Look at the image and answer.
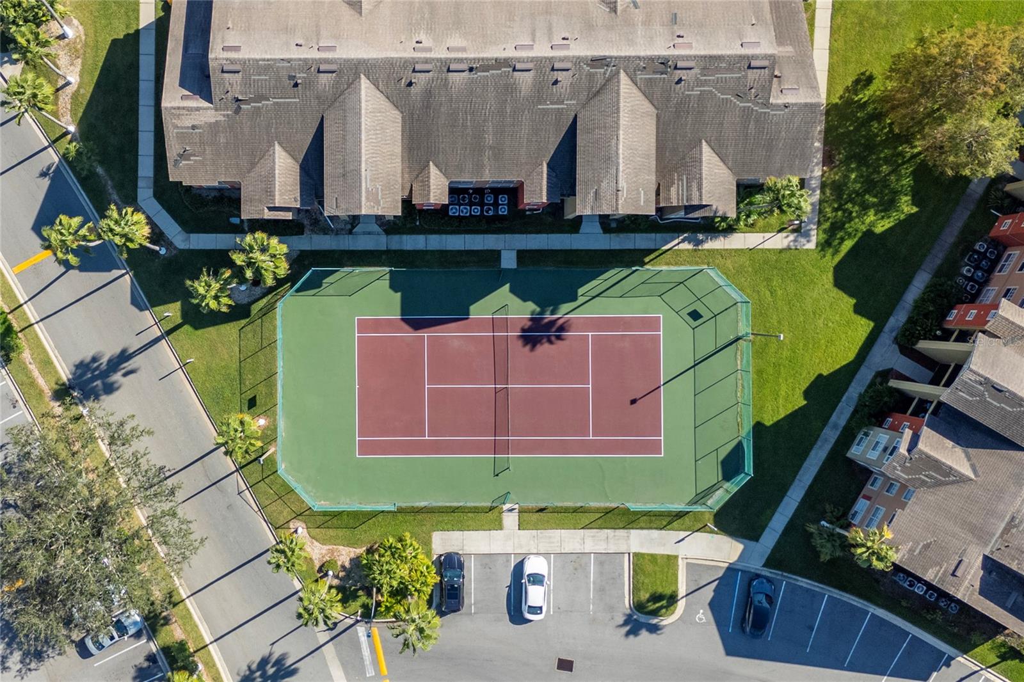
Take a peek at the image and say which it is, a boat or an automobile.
automobile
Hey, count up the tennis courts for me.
1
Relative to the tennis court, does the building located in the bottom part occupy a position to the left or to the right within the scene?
right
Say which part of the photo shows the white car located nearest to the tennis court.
bottom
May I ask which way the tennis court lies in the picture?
from side to side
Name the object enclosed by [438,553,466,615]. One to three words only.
car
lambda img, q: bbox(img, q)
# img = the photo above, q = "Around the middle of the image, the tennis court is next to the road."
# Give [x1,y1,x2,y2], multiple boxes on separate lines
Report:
[282,269,741,503]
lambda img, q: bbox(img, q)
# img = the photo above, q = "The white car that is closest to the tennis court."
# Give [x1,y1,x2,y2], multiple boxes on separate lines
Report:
[522,556,551,622]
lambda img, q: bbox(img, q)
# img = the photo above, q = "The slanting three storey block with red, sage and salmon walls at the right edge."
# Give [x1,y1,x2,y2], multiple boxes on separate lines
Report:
[833,190,1024,641]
